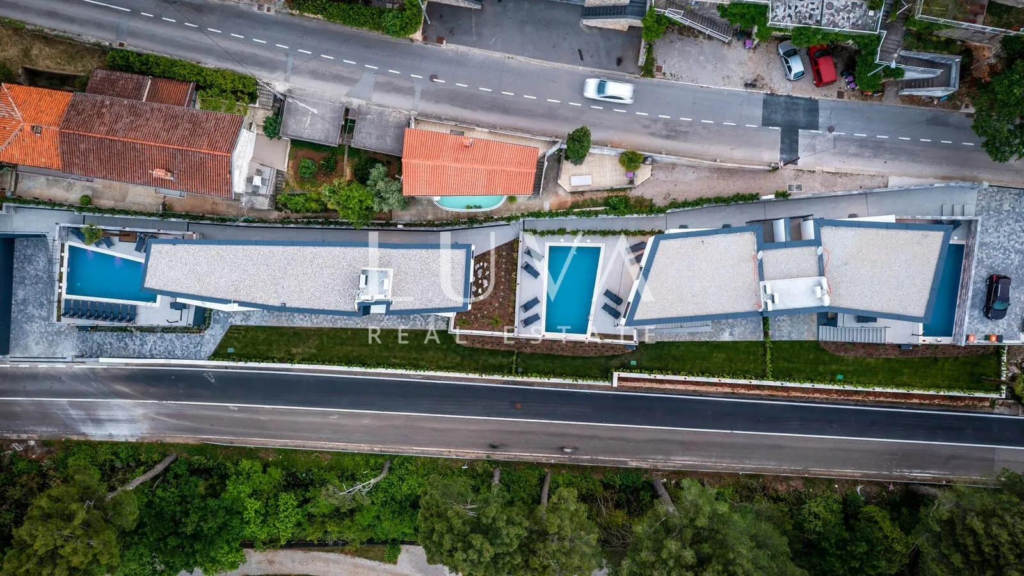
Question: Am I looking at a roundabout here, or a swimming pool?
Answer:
swimming pool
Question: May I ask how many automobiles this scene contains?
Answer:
4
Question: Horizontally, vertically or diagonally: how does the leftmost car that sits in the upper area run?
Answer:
horizontally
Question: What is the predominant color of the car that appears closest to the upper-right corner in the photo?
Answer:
red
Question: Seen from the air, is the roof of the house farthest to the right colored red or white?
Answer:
white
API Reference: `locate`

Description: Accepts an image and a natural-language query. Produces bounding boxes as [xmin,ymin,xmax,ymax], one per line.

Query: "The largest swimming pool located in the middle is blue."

[542,243,605,338]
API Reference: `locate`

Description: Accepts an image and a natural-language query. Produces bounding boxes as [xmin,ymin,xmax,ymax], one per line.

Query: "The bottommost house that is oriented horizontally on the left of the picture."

[141,239,474,316]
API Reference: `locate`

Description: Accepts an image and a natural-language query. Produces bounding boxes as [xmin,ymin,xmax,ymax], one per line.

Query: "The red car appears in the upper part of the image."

[809,42,841,88]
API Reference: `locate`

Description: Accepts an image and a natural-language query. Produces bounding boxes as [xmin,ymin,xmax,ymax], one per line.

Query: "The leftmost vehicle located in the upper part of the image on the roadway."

[584,75,636,103]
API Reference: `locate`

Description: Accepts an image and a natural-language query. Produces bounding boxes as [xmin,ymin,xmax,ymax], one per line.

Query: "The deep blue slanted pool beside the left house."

[64,241,165,307]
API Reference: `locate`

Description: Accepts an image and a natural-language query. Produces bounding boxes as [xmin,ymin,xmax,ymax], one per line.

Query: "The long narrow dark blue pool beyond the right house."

[918,240,963,343]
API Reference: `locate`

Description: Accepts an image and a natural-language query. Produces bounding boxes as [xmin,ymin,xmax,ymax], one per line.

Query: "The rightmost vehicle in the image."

[985,275,1018,322]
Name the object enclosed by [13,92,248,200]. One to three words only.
house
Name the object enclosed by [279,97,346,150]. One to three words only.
building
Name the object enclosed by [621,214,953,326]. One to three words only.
house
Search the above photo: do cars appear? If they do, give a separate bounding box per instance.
[809,42,841,88]
[985,275,1018,322]
[584,75,636,103]
[778,40,811,83]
